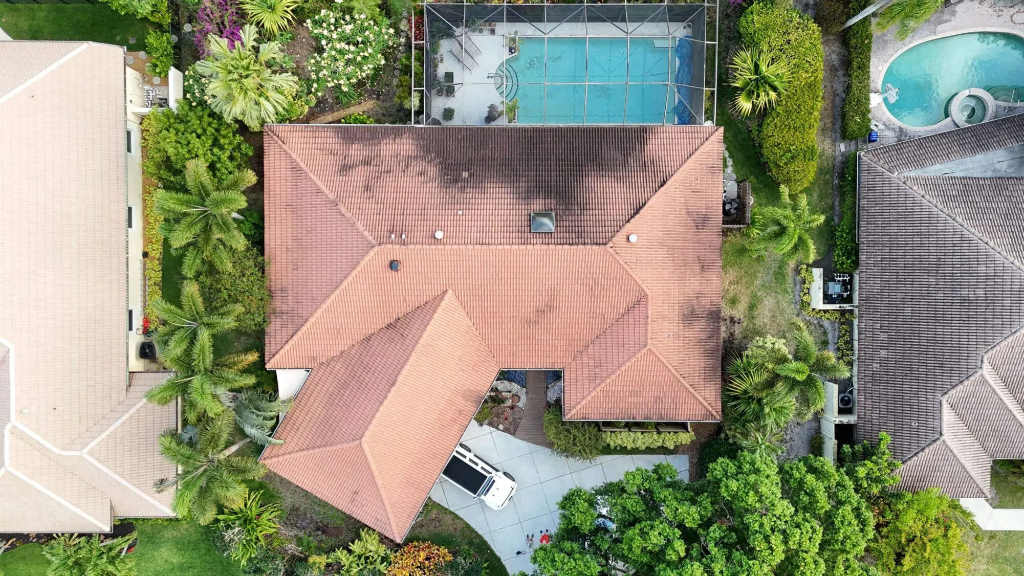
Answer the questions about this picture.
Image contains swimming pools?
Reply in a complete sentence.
Yes, a swimming pool is visible in the scene.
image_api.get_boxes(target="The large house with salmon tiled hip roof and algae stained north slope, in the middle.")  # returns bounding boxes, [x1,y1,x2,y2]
[258,123,725,545]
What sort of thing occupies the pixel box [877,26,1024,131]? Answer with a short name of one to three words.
swimming pool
